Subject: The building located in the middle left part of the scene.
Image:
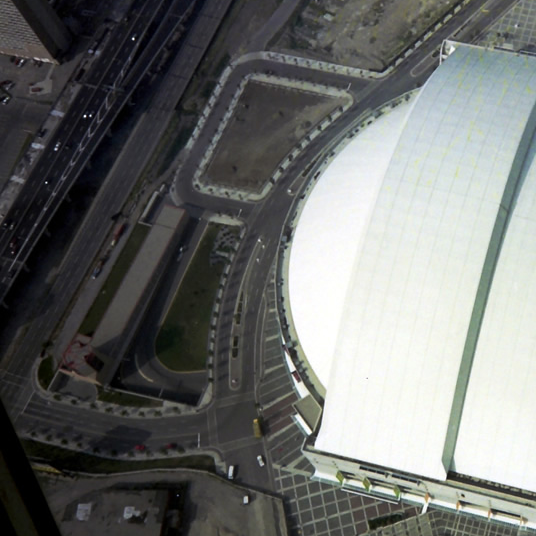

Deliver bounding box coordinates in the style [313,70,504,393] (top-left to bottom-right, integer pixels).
[58,204,189,387]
